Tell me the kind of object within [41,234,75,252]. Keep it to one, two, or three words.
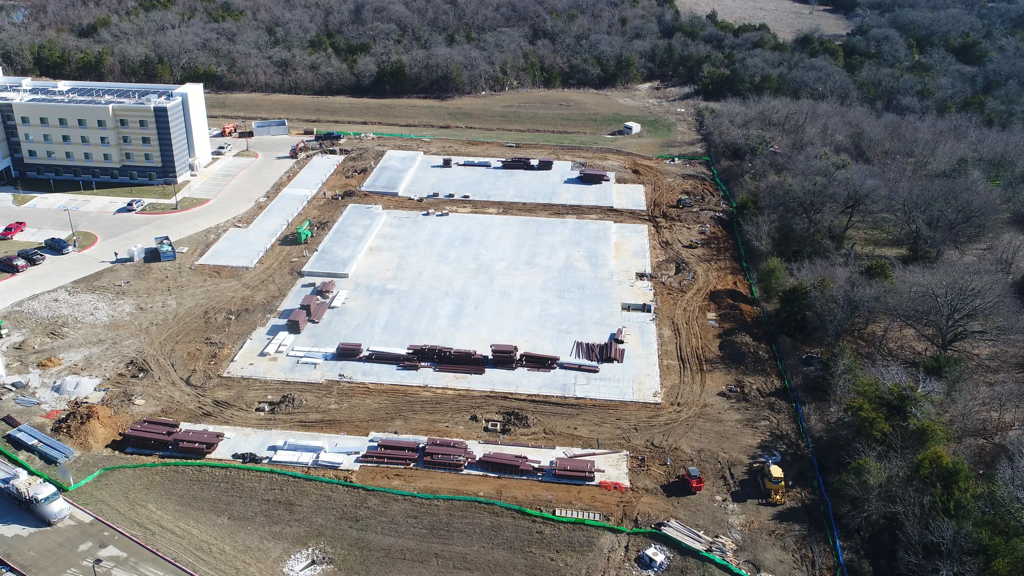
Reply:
vehicle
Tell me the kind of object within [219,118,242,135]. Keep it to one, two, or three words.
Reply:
work vehicle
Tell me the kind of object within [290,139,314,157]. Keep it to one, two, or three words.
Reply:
work vehicle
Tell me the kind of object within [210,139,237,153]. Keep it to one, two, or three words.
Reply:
vehicle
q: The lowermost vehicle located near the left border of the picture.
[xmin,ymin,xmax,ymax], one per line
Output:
[0,468,65,518]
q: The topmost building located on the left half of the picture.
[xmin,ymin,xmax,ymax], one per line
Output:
[0,69,209,183]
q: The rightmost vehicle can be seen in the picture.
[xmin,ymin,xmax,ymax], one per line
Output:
[752,458,788,510]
